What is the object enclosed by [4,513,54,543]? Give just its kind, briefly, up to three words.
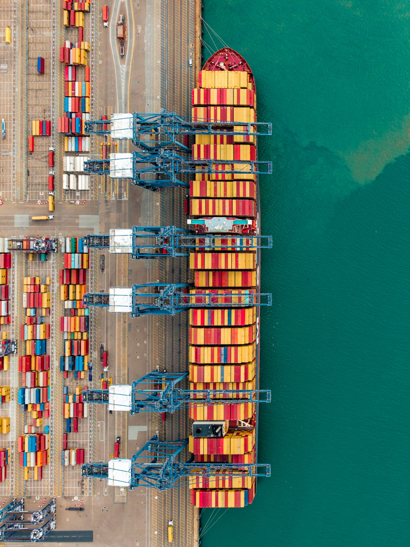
container crane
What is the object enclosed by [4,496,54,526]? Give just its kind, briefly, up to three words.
container crane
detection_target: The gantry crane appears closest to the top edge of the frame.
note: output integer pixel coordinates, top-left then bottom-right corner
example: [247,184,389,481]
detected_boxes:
[80,108,271,160]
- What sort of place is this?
port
